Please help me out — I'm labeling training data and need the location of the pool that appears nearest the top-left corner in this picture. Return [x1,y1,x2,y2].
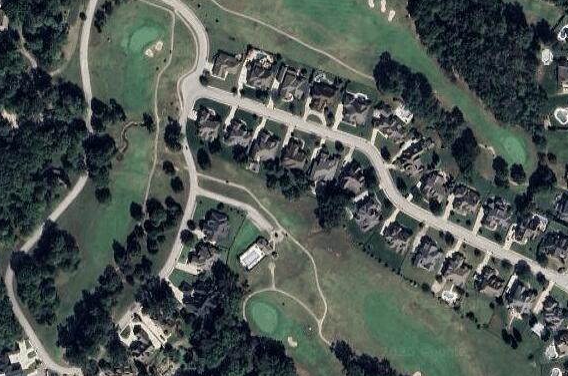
[248,50,275,64]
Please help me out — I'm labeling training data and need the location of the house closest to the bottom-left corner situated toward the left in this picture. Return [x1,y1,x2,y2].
[0,352,23,375]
